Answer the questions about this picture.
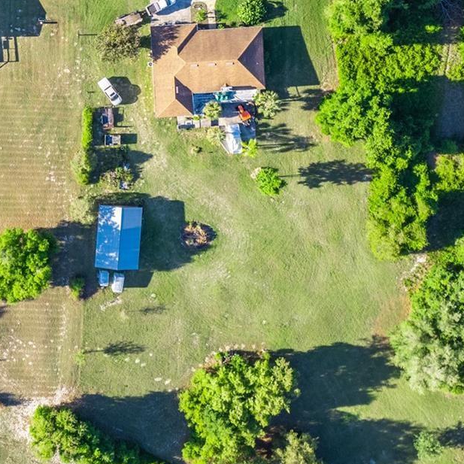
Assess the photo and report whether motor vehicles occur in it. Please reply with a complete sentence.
Yes, a motor vehicle appears in the view.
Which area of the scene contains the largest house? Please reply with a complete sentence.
The largest house sits in the top section of the image.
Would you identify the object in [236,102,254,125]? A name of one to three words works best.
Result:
work vehicle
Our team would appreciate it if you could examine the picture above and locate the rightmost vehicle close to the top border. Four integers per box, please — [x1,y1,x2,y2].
[144,0,176,18]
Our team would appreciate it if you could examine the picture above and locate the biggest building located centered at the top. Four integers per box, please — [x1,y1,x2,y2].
[150,23,264,119]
